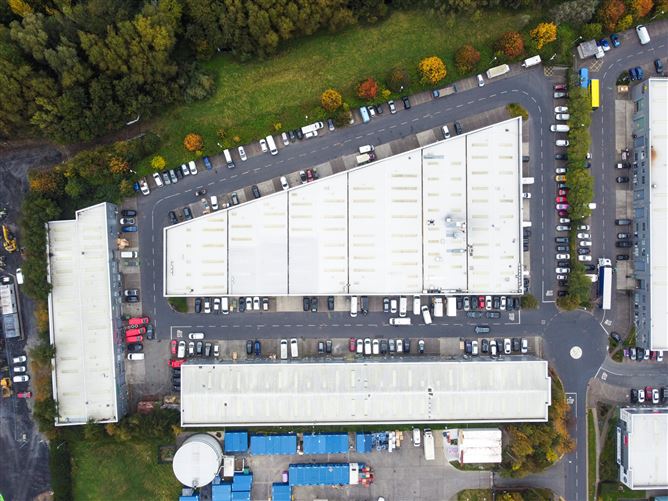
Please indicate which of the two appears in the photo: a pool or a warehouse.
warehouse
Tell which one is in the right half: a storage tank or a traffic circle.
traffic circle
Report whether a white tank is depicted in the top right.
No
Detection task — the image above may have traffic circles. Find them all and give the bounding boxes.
[530,304,608,398]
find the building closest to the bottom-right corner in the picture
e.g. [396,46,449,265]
[611,408,668,489]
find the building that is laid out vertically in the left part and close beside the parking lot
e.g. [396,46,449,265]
[48,202,129,424]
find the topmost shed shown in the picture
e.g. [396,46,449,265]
[575,39,599,61]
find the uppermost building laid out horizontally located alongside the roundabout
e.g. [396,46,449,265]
[164,116,524,297]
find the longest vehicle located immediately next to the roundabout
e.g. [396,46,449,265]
[596,260,611,312]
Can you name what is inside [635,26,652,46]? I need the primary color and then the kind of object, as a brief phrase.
white vehicle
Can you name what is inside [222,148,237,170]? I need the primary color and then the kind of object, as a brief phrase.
white vehicle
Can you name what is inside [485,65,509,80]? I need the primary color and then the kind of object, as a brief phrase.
white camper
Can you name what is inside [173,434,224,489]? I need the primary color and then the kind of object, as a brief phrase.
white storage tank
